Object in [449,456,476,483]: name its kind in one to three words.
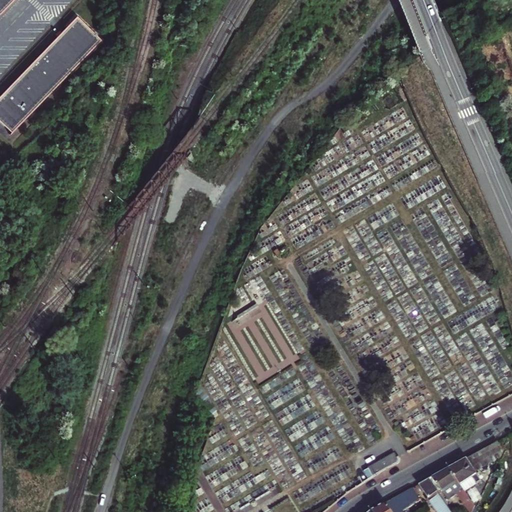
house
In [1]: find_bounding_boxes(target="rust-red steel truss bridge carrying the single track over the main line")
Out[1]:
[108,139,192,243]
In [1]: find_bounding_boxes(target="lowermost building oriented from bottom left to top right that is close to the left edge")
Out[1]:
[0,14,102,134]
